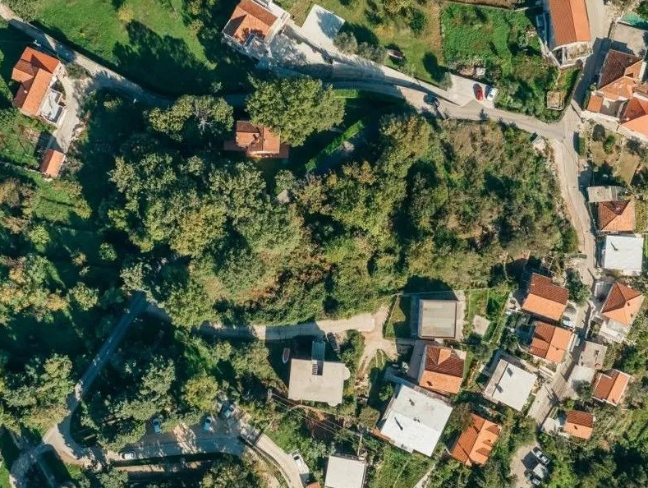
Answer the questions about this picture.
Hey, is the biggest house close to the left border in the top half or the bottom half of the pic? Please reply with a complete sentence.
The biggest house close to the left border is in the top half of the image.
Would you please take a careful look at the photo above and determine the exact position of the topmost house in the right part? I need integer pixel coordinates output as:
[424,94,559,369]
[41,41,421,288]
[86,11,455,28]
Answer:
[539,0,594,68]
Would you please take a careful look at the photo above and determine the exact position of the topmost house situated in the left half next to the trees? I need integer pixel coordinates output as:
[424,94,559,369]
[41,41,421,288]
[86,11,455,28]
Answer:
[223,0,291,61]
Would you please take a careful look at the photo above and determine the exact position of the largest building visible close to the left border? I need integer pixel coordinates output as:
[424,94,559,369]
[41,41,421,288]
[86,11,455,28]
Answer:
[12,46,67,122]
